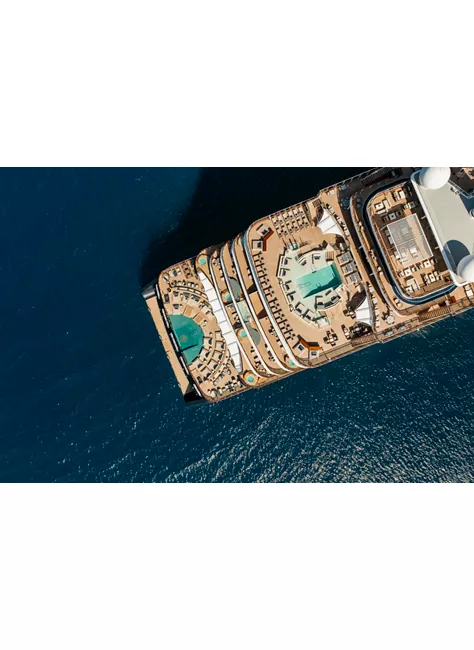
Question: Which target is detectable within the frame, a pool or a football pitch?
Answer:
pool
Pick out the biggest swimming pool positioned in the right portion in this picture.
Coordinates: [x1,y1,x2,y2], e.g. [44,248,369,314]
[296,263,340,299]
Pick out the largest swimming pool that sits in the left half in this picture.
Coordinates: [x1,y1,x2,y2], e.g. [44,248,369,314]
[169,314,204,364]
